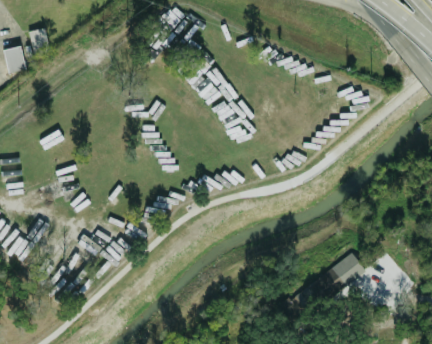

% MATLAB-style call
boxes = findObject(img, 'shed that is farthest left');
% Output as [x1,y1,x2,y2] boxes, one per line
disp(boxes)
[4,46,28,74]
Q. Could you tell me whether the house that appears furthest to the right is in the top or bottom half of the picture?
bottom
